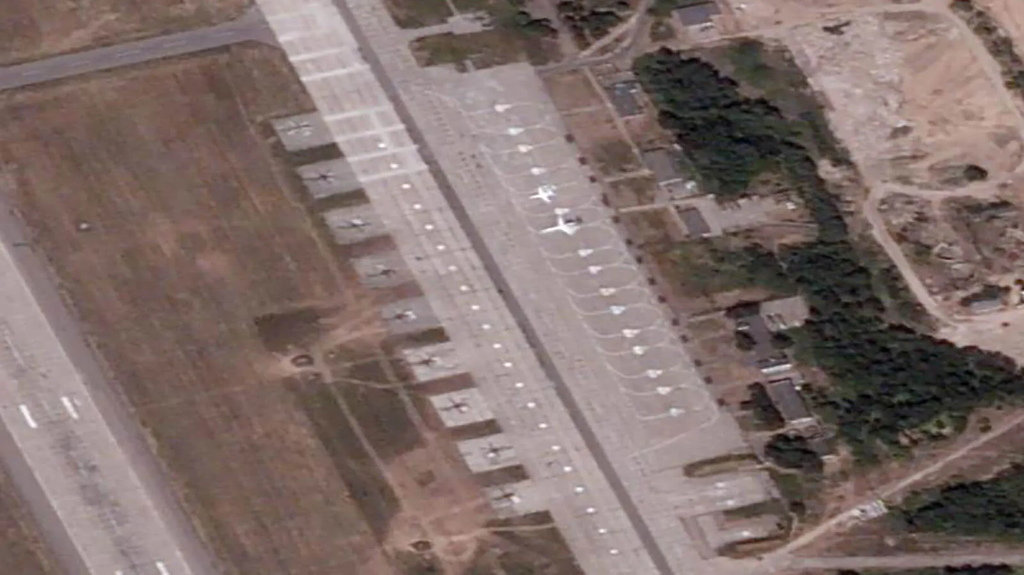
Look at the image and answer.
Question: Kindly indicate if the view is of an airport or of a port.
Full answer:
The area seen from above is an airport.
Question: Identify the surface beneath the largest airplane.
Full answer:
It looks like the largest airplane is sitting on the apron.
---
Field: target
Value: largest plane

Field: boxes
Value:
[540,215,581,240]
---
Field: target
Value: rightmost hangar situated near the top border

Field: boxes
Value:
[676,0,722,29]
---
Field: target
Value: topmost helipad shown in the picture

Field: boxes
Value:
[272,111,336,151]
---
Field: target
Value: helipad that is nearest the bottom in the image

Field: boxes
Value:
[481,479,551,517]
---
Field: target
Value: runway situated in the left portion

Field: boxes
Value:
[0,244,188,575]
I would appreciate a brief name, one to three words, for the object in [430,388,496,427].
helipad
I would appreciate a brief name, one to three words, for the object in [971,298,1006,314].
shed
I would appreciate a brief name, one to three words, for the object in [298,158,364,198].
helipad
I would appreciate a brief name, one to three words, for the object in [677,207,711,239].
building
